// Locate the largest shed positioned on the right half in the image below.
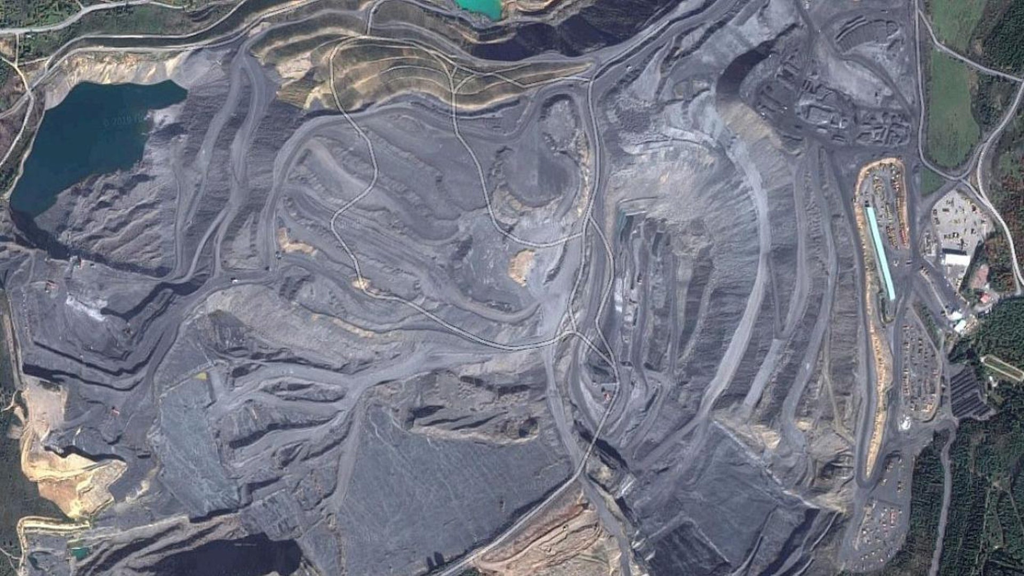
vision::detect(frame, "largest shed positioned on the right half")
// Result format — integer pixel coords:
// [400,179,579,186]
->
[867,207,896,300]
